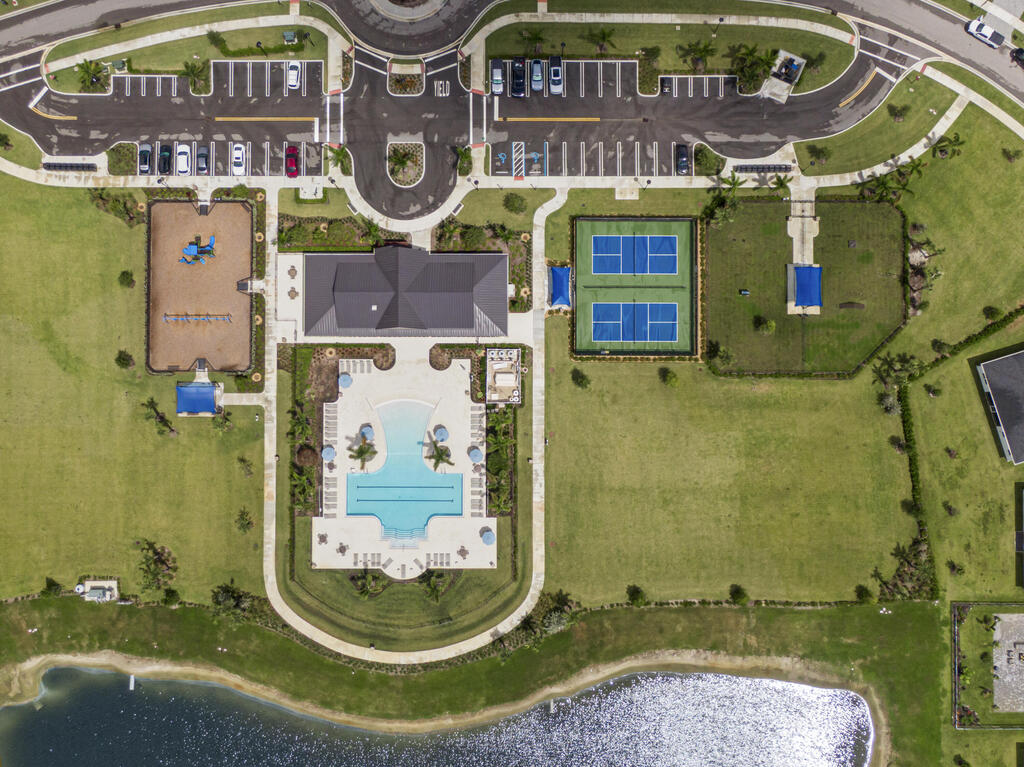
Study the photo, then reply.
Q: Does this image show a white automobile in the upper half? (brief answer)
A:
Yes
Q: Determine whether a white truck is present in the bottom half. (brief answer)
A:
No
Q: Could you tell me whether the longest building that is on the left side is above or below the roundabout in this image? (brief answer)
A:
below it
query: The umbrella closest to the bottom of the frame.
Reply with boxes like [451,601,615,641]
[482,530,496,545]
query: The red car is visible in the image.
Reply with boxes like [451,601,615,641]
[284,147,300,178]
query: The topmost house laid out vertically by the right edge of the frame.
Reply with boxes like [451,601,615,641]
[976,352,1024,465]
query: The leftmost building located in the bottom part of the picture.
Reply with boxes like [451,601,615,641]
[84,587,116,601]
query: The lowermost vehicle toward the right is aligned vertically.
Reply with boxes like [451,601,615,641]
[676,145,691,176]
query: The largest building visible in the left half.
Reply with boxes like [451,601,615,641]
[304,245,509,337]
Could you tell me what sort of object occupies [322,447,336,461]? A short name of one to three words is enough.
umbrella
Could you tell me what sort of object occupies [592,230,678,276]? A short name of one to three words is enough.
sports court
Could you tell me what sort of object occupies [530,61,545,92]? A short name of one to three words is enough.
car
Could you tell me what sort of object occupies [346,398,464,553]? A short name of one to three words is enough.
swimming pool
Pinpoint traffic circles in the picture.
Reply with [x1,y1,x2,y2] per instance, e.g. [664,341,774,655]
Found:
[330,0,486,56]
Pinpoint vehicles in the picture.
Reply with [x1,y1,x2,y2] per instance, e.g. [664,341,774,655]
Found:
[230,144,246,175]
[548,57,564,96]
[193,145,210,176]
[156,144,173,176]
[135,144,153,175]
[676,145,691,176]
[284,147,300,178]
[285,60,302,91]
[967,18,1007,49]
[174,145,191,176]
[530,61,545,92]
[510,58,526,97]
[660,76,671,94]
[489,61,505,93]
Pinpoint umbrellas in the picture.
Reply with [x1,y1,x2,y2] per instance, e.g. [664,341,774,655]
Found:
[338,373,353,388]
[434,426,449,441]
[322,447,336,461]
[482,530,496,545]
[360,425,374,440]
[469,448,483,462]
